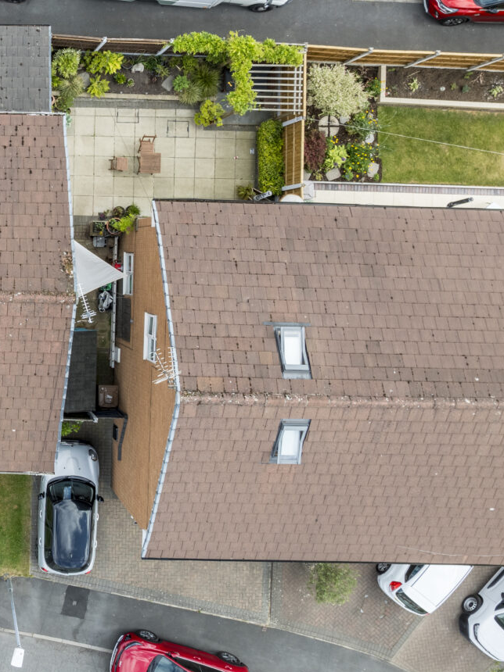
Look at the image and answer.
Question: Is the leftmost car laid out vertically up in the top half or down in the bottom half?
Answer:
bottom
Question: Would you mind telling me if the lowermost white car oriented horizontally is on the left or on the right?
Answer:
right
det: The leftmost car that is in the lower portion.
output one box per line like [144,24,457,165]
[32,437,106,578]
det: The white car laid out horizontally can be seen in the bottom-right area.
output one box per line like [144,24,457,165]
[375,568,479,613]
